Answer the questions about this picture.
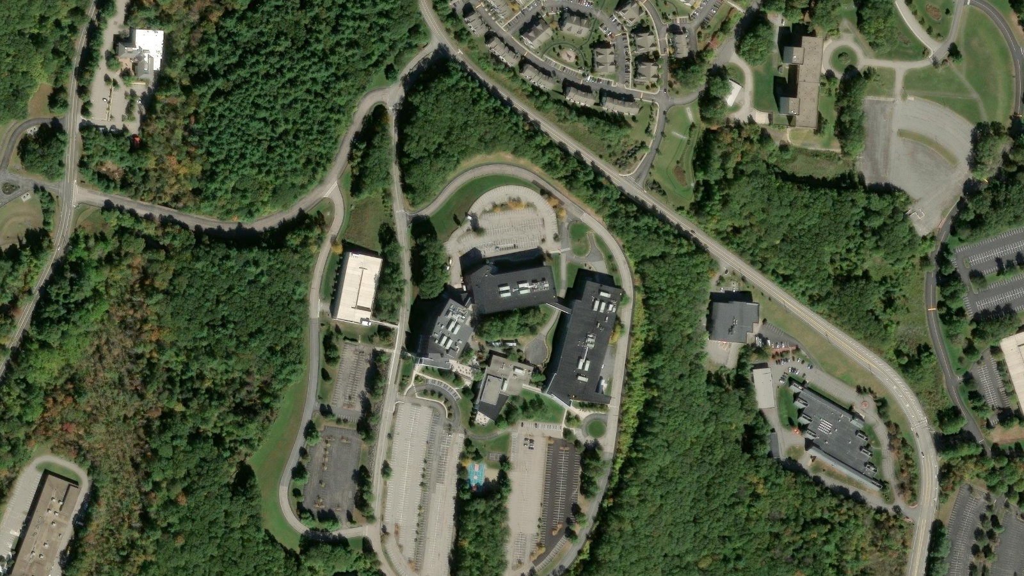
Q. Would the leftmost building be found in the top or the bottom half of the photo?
bottom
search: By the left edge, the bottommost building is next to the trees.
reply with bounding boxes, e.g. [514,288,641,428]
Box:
[10,475,79,576]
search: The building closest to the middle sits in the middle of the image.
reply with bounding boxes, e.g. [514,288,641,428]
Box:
[465,265,558,314]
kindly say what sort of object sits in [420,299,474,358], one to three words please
building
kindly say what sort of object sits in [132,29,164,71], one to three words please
building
